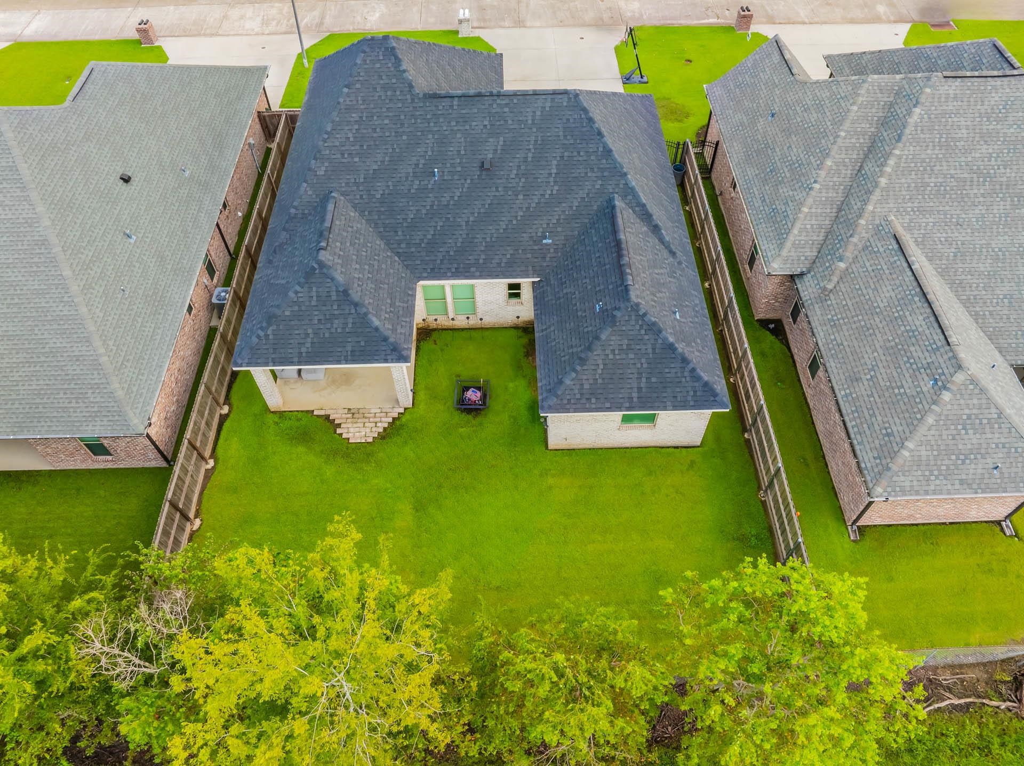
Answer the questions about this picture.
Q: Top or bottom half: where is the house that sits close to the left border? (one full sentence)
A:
It is in the top half that the house that sits close to the left border appears.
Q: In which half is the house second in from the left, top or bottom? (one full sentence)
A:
The top half of the photo is where the house second in from the left is.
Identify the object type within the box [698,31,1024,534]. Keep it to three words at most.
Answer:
house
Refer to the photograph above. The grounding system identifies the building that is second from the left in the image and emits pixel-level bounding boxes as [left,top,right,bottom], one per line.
[229,35,732,450]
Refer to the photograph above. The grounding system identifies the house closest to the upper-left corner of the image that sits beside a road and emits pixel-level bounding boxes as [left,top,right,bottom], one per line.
[0,60,275,471]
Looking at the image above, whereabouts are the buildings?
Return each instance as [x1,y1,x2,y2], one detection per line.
[698,31,1024,534]
[0,60,275,471]
[229,35,732,450]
